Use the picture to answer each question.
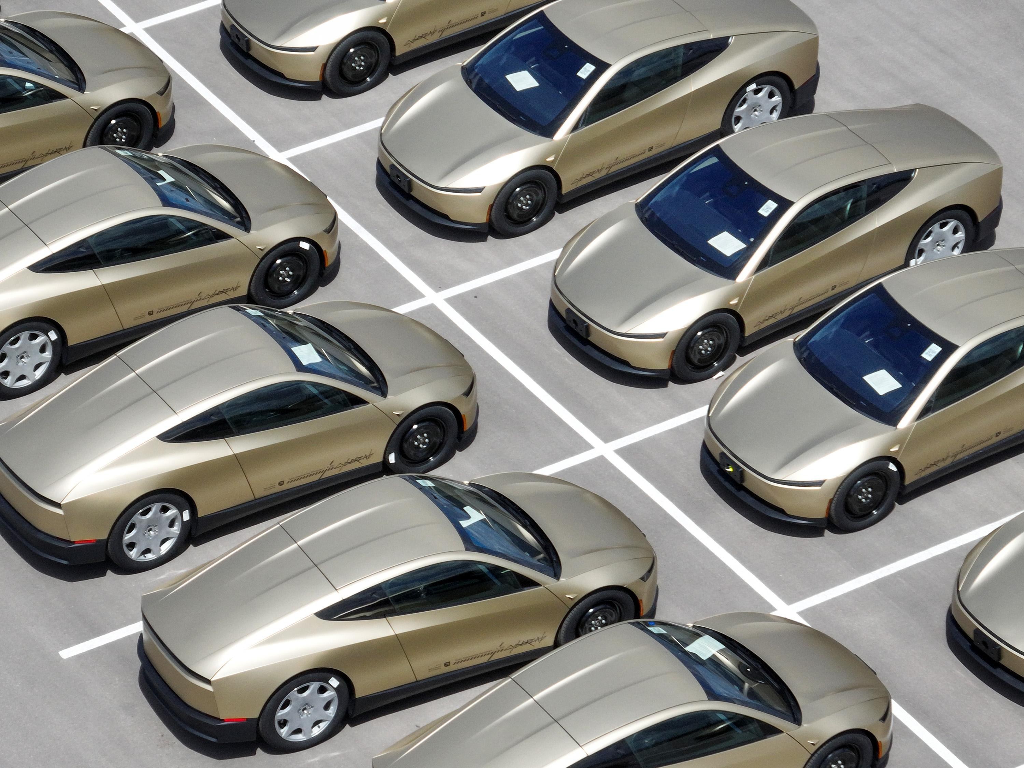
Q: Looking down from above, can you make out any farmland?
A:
No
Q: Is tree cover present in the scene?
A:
No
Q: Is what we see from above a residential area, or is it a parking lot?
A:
parking lot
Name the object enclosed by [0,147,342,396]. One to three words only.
car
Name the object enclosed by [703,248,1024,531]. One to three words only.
car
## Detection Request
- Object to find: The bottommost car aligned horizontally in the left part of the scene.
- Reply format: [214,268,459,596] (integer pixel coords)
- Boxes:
[136,475,661,751]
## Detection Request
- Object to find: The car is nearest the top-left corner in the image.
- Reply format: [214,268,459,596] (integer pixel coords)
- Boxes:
[0,15,175,182]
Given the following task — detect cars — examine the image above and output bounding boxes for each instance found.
[0,147,342,396]
[0,304,479,570]
[372,613,895,768]
[376,0,822,236]
[953,519,1024,697]
[220,0,557,94]
[136,475,661,751]
[549,103,1005,382]
[703,248,1024,531]
[0,15,175,182]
